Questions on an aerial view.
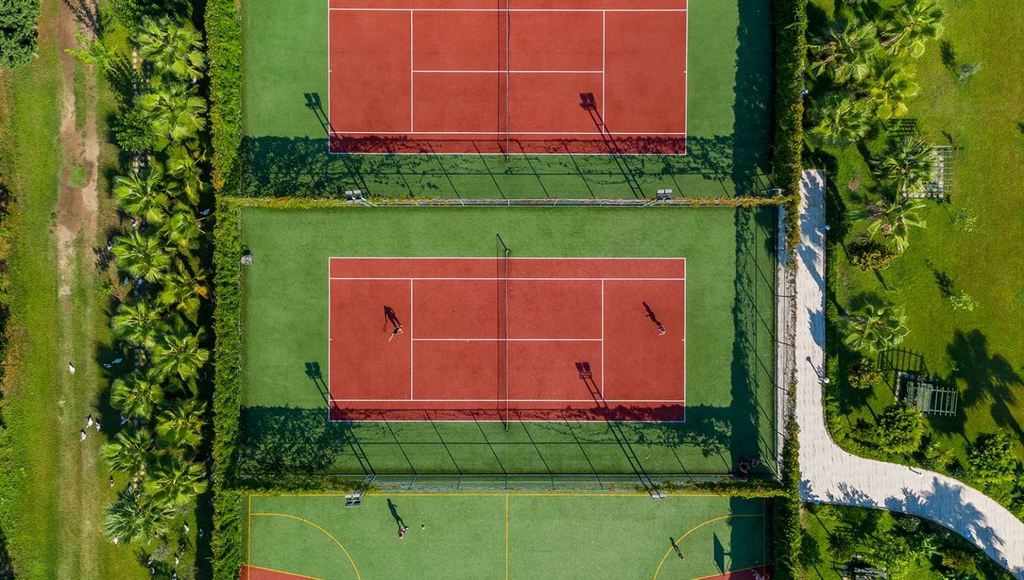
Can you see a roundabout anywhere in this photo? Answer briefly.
No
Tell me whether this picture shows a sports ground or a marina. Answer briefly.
sports ground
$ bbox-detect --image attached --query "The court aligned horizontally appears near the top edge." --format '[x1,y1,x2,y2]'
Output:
[241,0,775,204]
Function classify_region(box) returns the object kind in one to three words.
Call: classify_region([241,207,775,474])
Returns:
tennis court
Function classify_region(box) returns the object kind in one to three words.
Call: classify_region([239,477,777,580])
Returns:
basketball court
